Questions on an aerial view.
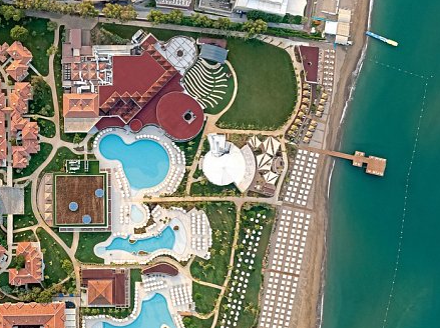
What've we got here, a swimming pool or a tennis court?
swimming pool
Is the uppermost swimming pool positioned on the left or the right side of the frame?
left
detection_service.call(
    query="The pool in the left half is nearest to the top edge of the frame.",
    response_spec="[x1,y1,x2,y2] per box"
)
[99,133,171,190]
